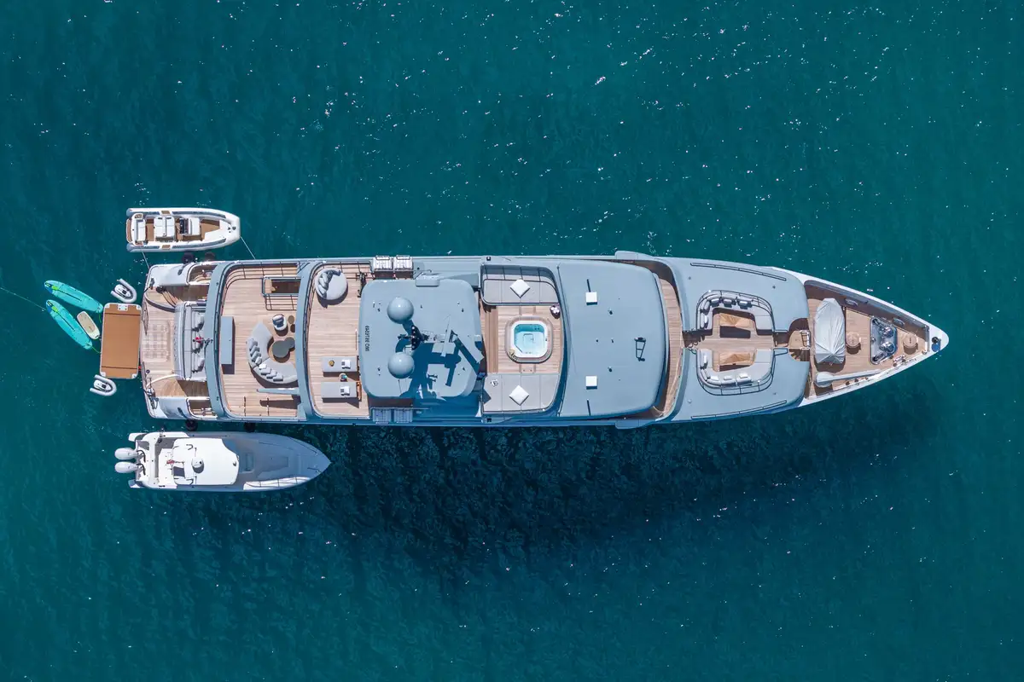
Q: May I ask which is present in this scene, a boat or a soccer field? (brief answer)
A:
boat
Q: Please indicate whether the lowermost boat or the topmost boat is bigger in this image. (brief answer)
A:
the lowermost boat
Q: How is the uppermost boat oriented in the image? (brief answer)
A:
horizontally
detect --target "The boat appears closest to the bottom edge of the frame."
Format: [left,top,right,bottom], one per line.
[114,429,331,492]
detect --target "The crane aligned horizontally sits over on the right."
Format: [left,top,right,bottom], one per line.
[813,369,880,385]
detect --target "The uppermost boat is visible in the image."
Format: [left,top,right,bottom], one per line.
[126,207,242,253]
